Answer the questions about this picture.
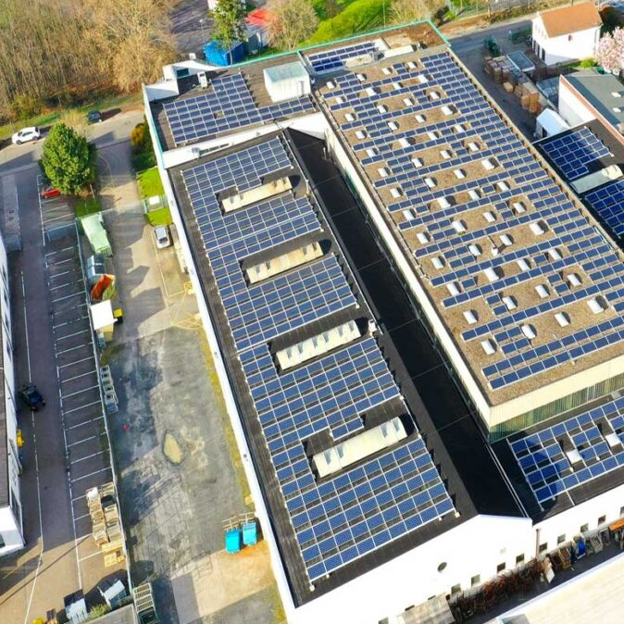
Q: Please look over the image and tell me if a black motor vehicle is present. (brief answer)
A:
Yes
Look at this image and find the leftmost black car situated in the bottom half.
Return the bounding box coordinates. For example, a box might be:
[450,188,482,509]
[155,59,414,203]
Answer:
[16,380,48,409]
